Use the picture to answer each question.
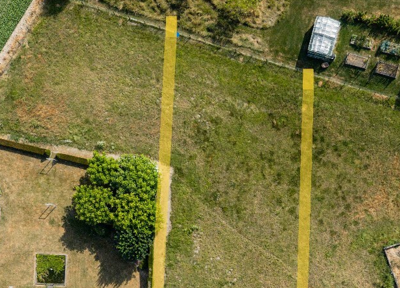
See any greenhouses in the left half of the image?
No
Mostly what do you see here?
grass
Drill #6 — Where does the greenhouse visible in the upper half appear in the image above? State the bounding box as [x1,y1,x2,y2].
[308,15,341,61]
